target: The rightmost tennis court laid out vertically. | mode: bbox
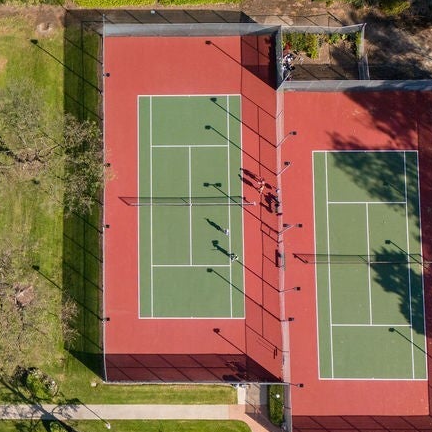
[276,90,432,432]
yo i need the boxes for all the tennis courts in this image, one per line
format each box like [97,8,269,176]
[103,35,282,382]
[276,90,432,432]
